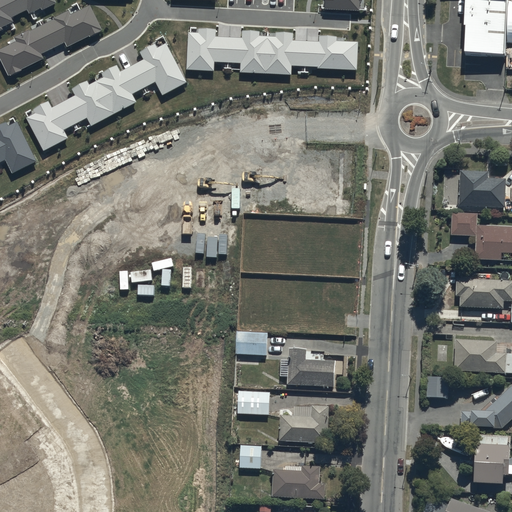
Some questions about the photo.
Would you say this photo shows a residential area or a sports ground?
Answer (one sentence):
The area seen from above is a residential area.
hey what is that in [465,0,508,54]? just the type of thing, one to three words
building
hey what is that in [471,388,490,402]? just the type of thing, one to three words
vehicle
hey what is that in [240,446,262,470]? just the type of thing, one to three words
shed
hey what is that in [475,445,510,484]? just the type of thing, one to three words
house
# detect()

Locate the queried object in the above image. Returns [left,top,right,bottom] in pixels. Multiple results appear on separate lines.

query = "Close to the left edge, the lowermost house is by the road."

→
[0,120,34,174]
